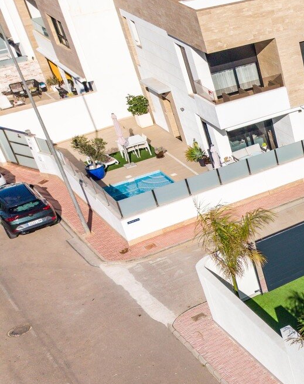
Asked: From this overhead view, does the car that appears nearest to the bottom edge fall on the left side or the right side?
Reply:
left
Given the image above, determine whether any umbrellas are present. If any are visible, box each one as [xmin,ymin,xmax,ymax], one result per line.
[205,123,228,169]
[108,113,139,169]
